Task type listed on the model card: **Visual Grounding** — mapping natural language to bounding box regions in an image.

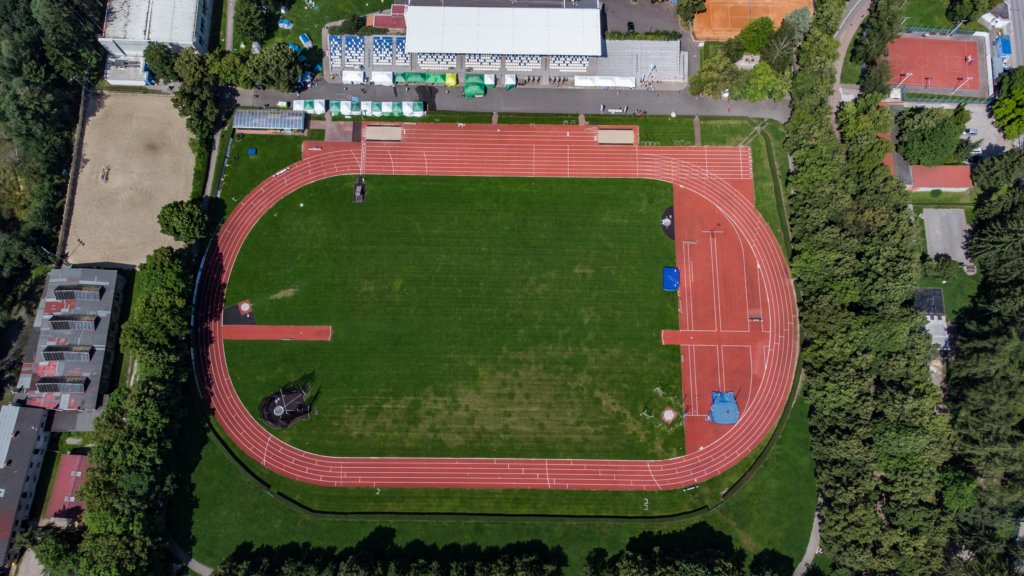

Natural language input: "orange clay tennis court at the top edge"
[693,0,808,42]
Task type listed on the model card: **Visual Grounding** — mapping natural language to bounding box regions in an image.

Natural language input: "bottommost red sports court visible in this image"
[883,31,985,98]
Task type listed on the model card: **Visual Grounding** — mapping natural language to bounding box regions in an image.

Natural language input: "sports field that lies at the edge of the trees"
[223,173,687,460]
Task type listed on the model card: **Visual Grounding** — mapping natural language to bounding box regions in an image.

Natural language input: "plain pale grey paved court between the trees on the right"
[922,208,972,262]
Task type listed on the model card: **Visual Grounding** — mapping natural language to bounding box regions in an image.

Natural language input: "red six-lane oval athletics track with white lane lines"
[194,123,799,491]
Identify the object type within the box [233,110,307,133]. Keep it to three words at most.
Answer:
shed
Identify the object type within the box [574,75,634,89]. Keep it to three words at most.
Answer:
tent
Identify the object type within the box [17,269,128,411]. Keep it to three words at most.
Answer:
building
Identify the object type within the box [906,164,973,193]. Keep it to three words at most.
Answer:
house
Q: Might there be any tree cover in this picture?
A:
Yes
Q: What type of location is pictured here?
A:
sports ground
